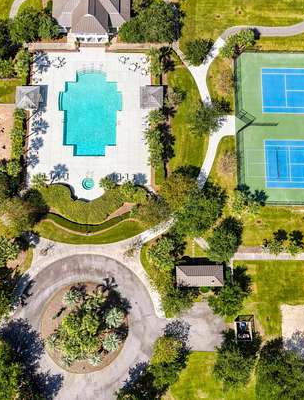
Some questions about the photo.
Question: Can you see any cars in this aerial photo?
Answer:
No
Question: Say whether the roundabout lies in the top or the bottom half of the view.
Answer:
bottom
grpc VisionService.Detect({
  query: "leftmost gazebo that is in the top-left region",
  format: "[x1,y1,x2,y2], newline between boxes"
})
[15,86,42,111]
